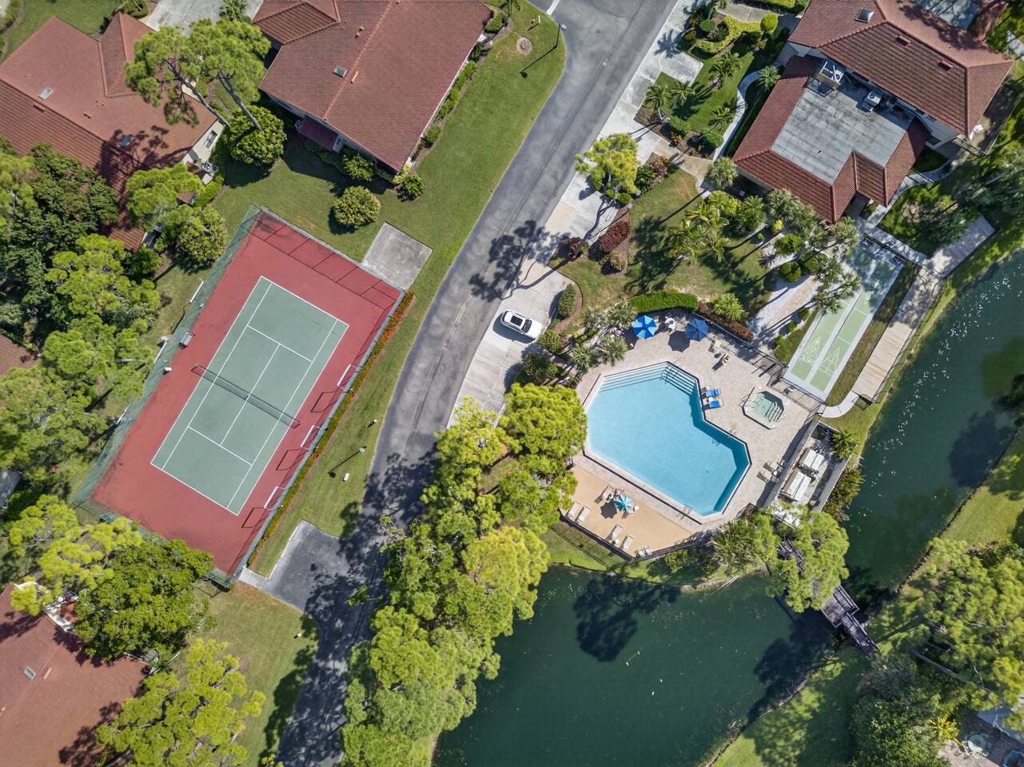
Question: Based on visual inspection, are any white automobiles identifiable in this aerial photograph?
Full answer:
Yes, there is a white automobile in the image.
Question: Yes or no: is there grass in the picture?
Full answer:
Yes, some grass is visible.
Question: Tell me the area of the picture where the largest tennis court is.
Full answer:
The largest tennis court sits in the left section of the image.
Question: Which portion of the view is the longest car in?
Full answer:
The longest car appears toward the center of the photo.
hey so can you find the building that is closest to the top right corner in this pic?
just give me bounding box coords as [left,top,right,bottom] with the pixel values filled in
[734,0,1014,221]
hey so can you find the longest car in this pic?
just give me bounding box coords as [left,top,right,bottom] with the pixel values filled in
[500,308,543,339]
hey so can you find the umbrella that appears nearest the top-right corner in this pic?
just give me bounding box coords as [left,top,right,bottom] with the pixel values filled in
[684,317,708,341]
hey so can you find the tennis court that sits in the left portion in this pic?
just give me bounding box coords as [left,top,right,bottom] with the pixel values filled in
[95,217,405,576]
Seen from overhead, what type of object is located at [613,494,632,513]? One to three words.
umbrella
